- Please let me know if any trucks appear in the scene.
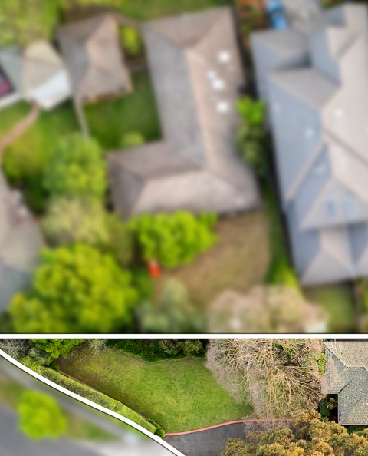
No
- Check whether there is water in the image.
No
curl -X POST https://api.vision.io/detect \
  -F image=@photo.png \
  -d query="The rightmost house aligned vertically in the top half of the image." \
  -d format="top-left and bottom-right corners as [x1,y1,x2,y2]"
[249,1,368,286]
